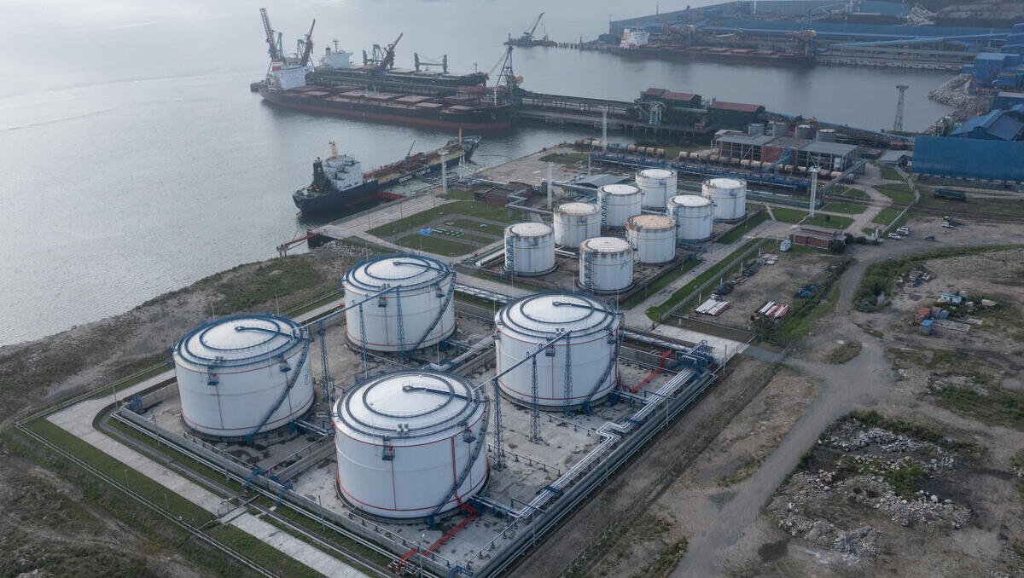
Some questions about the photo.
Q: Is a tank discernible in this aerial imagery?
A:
Yes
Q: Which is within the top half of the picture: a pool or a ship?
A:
ship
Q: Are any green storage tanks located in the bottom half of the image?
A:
No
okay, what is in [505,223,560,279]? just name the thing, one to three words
storage tank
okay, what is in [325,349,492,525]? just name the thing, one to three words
storage tank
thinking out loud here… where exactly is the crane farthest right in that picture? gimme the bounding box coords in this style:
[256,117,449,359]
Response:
[502,8,557,47]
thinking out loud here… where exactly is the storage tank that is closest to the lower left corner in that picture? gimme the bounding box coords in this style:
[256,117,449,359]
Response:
[166,289,320,442]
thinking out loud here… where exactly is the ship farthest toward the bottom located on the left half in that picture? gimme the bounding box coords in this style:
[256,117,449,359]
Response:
[285,118,474,209]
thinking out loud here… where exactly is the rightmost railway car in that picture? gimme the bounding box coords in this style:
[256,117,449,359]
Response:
[934,187,966,202]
